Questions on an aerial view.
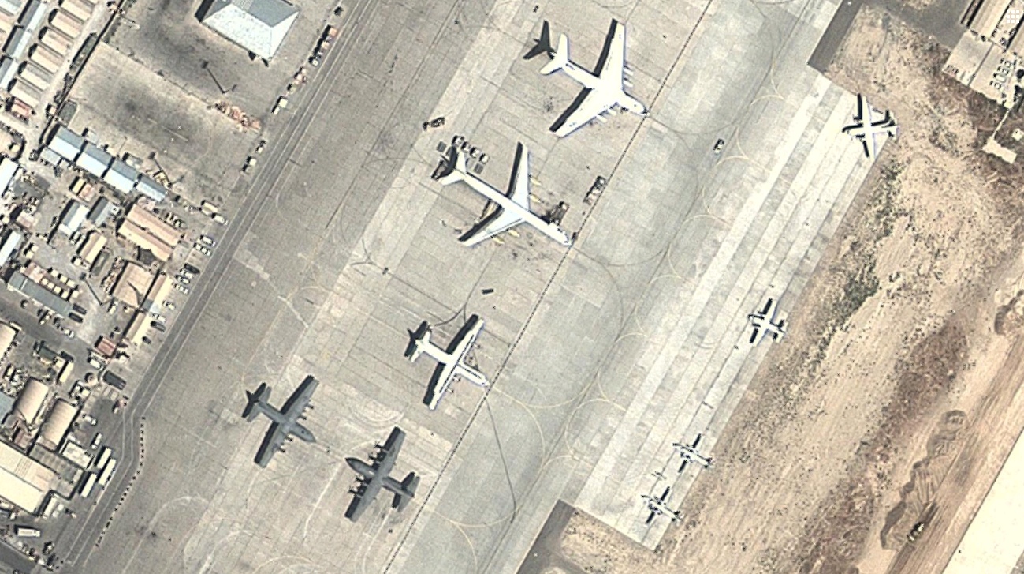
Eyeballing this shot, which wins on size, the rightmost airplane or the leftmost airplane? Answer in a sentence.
Compared with the rightmost airplane, the leftmost airplane is the bigger one.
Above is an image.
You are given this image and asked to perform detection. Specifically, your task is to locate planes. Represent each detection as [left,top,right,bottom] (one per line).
[540,22,647,137]
[848,98,902,161]
[243,376,317,468]
[676,435,713,476]
[347,426,422,520]
[440,146,570,245]
[751,299,788,346]
[645,488,682,529]
[411,321,489,408]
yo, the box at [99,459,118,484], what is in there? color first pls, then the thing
white vehicle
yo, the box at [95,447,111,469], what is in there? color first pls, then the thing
white vehicle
